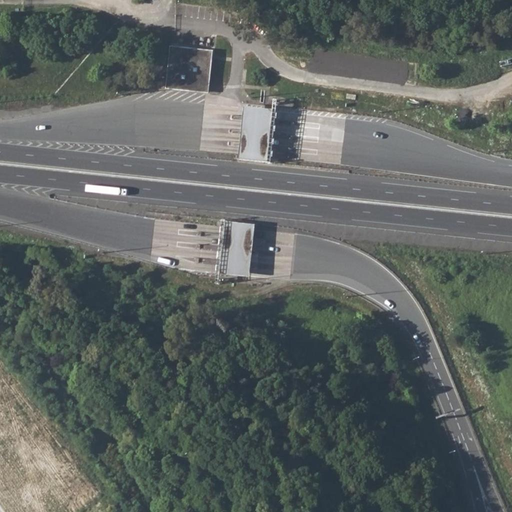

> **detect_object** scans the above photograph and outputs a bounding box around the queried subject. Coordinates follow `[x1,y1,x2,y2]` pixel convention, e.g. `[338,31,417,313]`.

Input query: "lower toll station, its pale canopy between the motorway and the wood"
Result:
[152,216,296,280]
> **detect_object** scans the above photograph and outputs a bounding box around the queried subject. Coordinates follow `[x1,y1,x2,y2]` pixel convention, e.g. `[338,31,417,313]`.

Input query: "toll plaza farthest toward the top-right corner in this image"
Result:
[200,94,346,166]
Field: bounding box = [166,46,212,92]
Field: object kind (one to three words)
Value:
building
